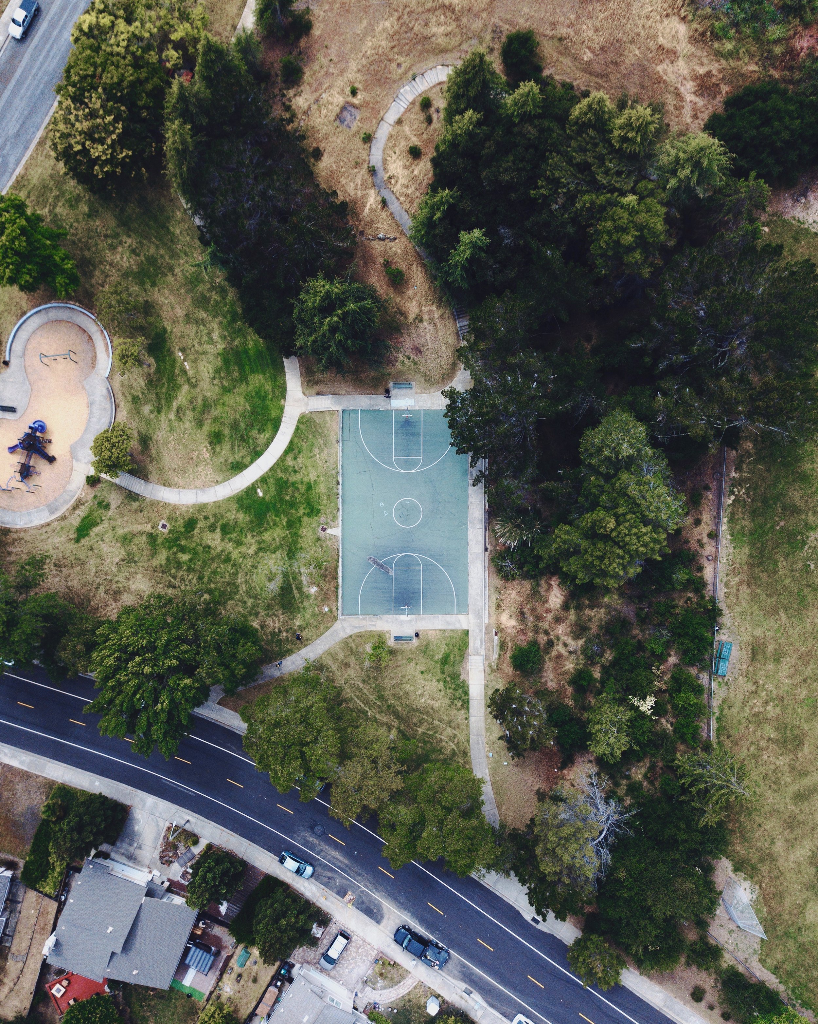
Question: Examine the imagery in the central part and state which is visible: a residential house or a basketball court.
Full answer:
Looking in the central part, you will find a basketball court.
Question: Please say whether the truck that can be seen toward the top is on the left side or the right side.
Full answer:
You can find the truck that can be seen toward the top on the left side of the picture.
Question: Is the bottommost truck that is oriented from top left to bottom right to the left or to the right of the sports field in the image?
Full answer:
The bottommost truck that is oriented from top left to bottom right can be seen on the left of the sports field.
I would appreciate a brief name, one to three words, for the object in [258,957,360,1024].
house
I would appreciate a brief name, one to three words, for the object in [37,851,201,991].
house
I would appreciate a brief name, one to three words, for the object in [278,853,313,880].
car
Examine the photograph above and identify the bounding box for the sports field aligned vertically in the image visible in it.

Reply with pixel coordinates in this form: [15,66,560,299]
[718,224,818,1009]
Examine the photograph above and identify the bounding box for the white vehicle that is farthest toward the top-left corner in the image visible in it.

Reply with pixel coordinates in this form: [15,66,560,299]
[2,0,37,37]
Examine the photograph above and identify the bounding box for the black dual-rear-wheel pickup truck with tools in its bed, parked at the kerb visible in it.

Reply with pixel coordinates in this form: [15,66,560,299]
[397,928,448,973]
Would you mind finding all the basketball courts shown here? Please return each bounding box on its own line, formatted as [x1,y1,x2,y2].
[342,410,469,615]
